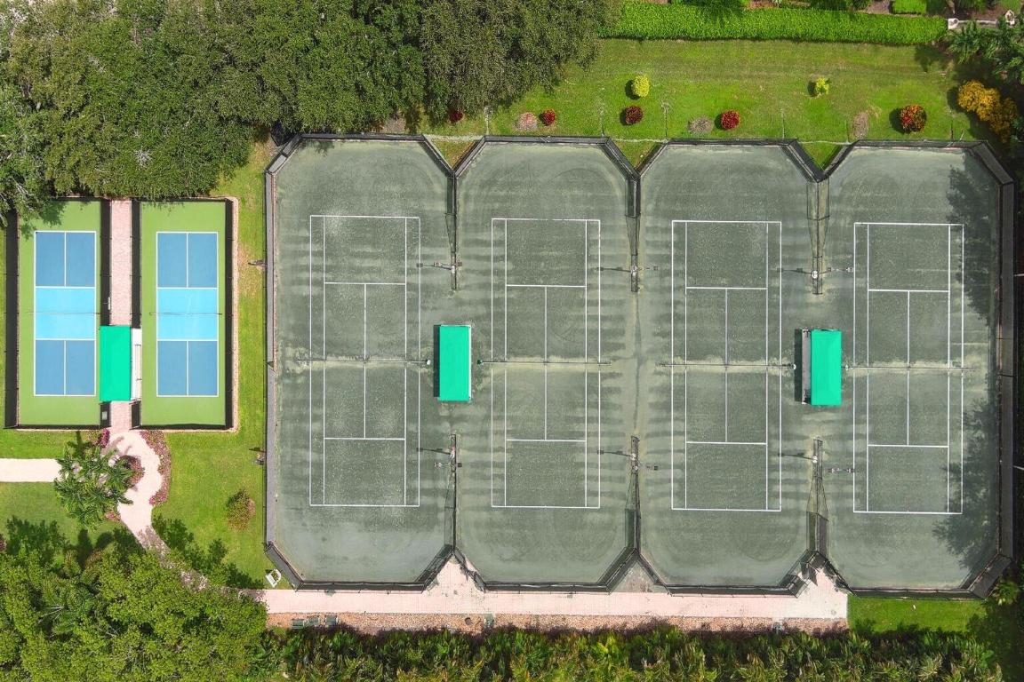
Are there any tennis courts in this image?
Yes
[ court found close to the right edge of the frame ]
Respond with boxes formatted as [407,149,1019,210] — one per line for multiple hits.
[816,148,996,589]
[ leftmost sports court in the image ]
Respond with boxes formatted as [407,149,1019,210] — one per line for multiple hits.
[19,201,110,426]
